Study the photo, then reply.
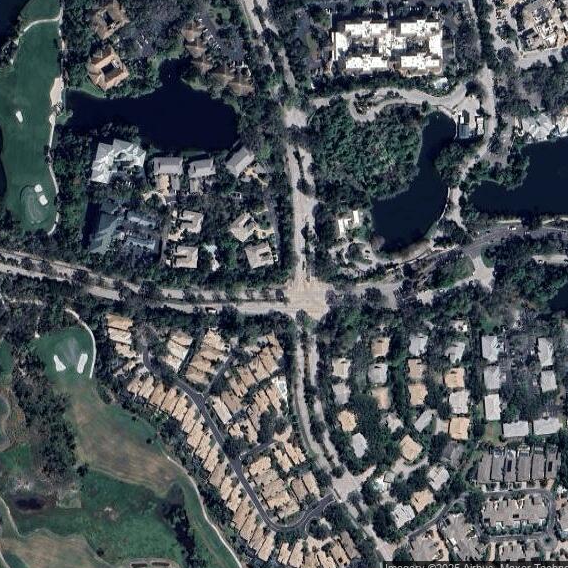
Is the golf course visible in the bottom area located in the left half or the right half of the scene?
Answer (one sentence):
The golf course visible in the bottom area is on the left side of the image.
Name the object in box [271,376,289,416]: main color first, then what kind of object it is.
white swimming pool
